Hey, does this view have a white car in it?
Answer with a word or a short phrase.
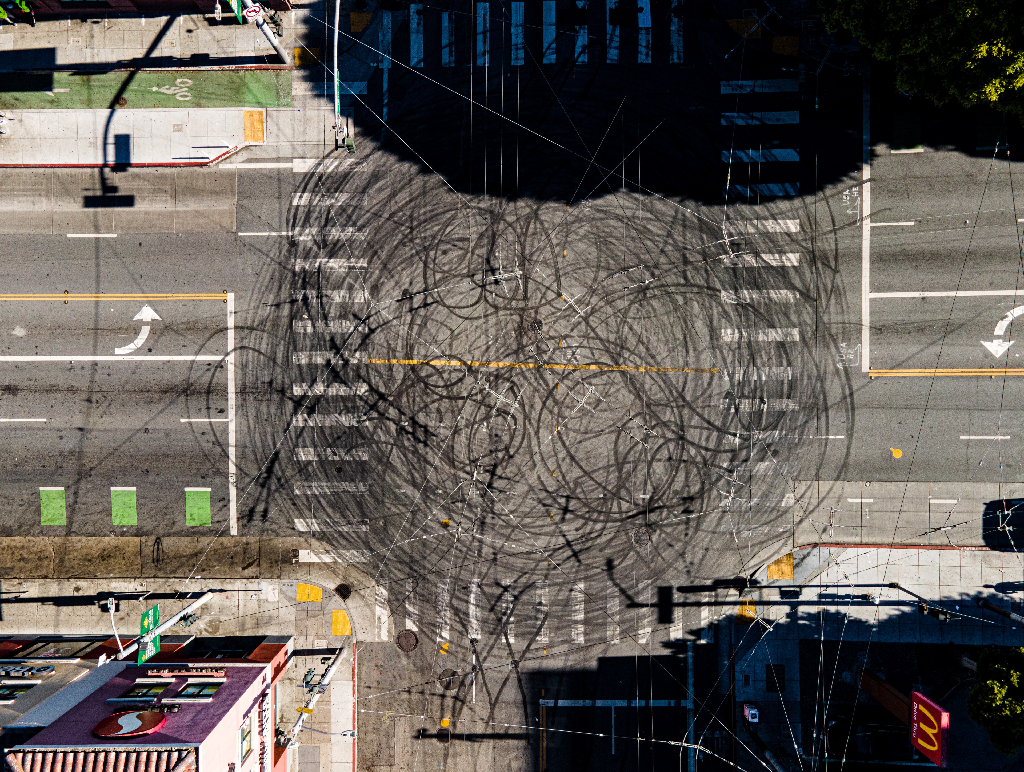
No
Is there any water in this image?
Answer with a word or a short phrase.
No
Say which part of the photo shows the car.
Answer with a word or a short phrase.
bottom right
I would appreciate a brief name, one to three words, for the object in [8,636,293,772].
building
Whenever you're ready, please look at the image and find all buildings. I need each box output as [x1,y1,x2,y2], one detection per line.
[0,0,292,10]
[8,636,293,772]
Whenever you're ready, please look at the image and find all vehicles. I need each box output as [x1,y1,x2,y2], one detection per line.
[822,717,914,765]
